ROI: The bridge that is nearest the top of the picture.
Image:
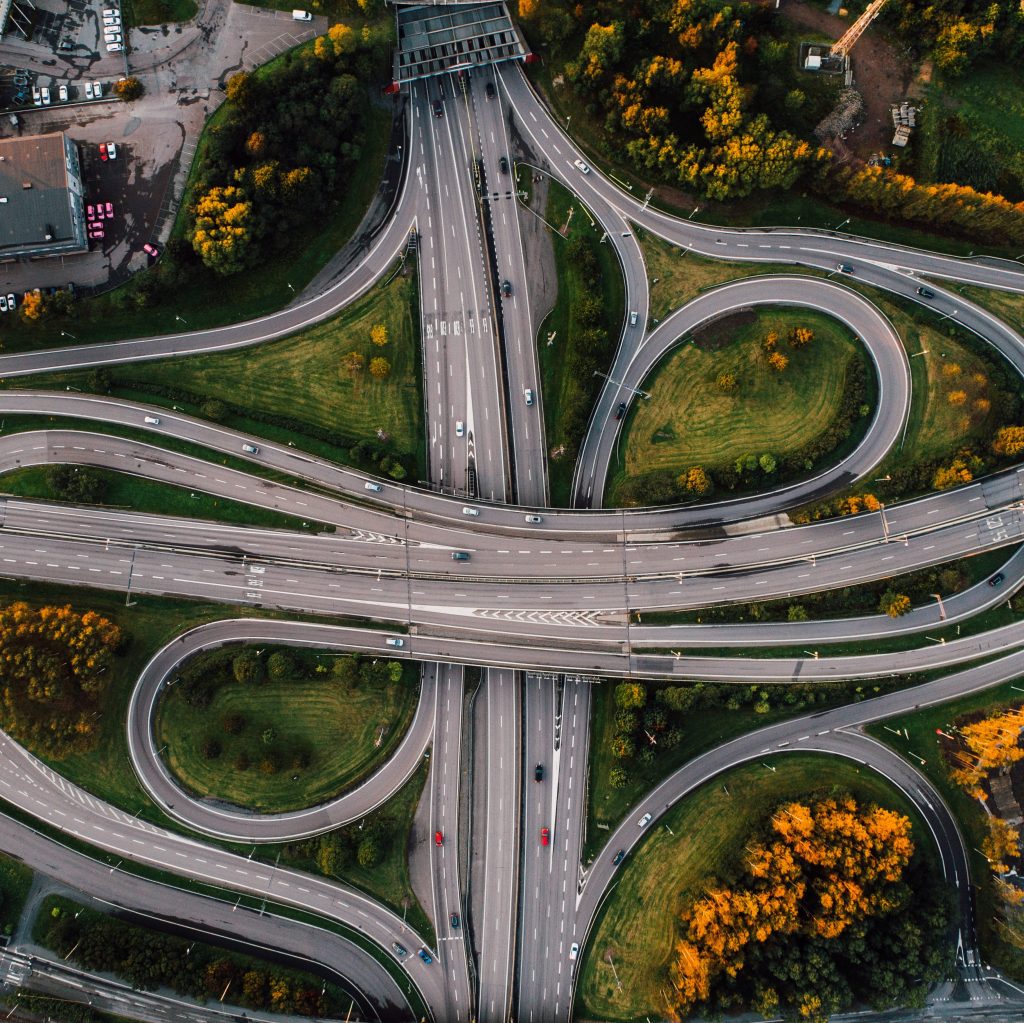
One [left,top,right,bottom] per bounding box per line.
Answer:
[972,463,1024,548]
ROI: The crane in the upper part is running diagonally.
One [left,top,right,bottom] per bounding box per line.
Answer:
[834,0,892,66]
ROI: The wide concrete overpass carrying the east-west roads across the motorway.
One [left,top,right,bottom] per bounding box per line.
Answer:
[404,484,634,678]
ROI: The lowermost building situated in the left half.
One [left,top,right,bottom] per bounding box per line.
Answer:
[0,130,88,255]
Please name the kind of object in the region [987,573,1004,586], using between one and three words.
vehicle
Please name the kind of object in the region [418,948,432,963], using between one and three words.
car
